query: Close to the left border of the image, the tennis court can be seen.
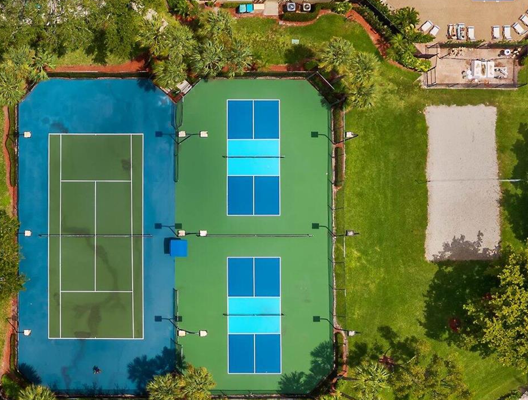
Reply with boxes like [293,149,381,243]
[17,79,176,397]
